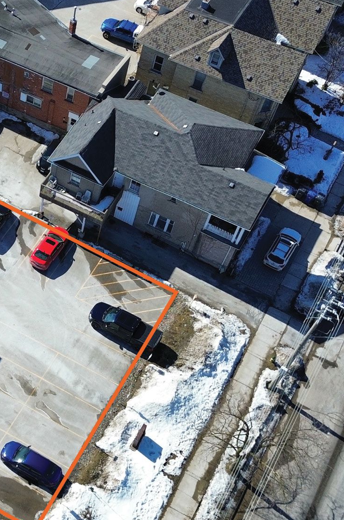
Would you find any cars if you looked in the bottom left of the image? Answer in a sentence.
Yes, in the bottom left of the image there is a car.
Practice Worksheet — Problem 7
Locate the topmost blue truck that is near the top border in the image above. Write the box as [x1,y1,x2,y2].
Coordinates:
[102,20,142,50]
